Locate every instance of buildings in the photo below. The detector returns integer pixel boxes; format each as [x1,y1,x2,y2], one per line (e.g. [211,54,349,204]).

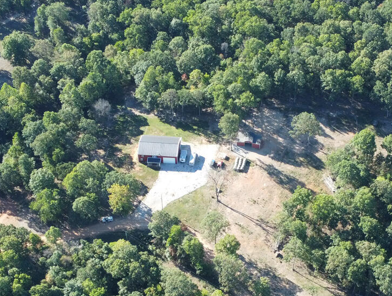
[136,135,182,171]
[236,130,264,149]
